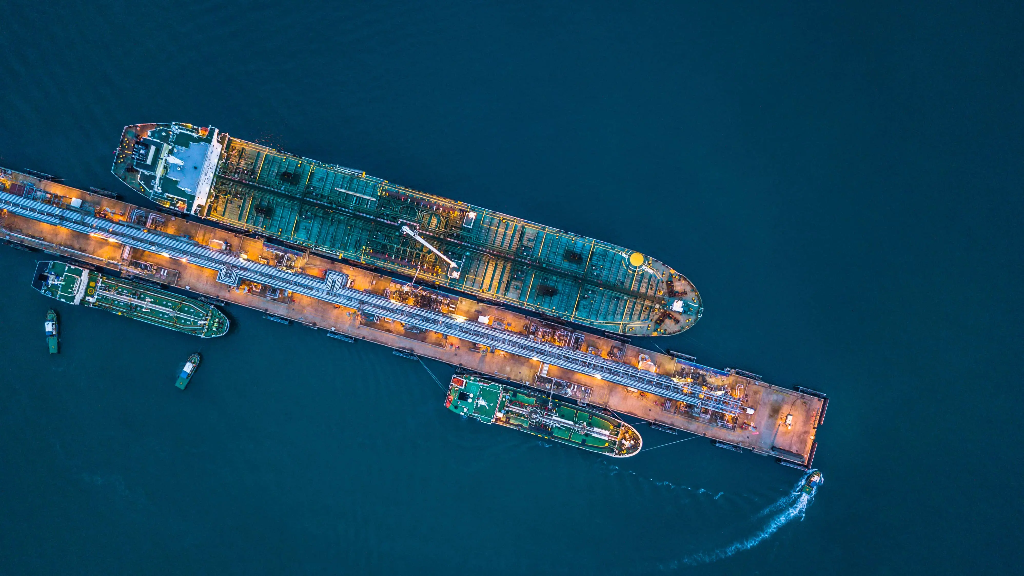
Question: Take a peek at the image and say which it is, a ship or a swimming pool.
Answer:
ship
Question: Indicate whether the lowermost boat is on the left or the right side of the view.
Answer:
right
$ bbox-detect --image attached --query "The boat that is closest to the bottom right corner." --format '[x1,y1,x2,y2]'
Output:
[802,469,822,495]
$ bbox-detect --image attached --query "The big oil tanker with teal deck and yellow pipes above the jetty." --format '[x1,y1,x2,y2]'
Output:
[110,122,704,336]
